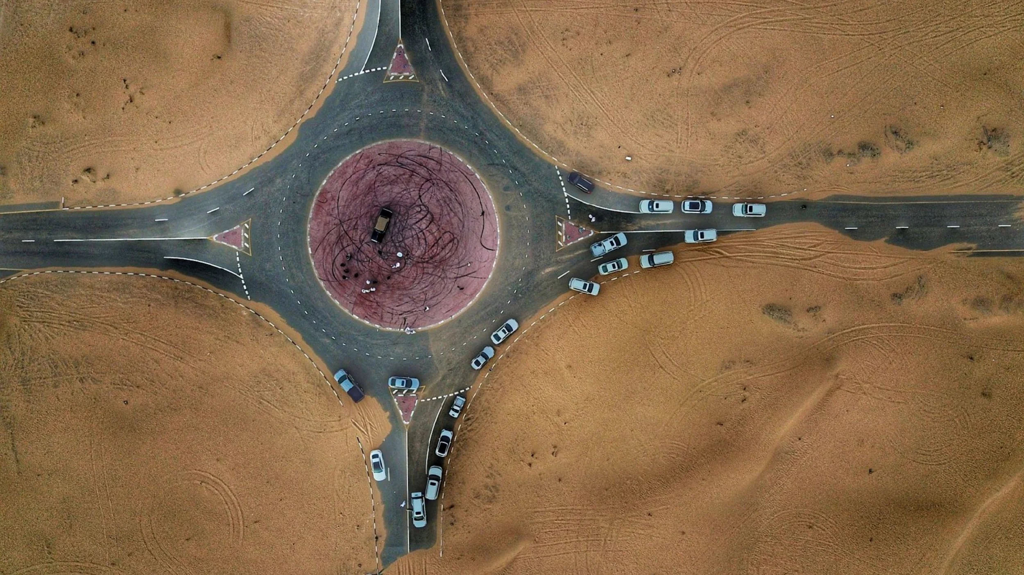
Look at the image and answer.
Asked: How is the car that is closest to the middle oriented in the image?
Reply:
at an angle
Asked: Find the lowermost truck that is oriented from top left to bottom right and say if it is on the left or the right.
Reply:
left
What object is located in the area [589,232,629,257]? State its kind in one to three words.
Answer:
truck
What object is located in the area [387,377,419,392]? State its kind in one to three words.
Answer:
car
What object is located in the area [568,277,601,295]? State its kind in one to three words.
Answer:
car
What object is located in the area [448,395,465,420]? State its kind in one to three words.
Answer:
vehicle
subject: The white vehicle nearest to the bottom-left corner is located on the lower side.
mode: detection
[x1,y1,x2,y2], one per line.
[368,450,386,483]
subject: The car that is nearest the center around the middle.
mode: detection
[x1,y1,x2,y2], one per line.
[488,317,520,347]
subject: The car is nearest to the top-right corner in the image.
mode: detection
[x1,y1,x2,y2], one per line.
[734,201,769,217]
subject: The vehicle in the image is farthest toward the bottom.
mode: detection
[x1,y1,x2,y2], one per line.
[405,494,426,530]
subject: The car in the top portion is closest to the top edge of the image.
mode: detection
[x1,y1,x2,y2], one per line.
[566,170,597,194]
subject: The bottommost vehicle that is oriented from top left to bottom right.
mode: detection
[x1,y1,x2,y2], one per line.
[332,369,365,406]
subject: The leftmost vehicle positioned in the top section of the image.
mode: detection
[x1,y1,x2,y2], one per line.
[371,207,391,242]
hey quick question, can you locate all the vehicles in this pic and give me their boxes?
[470,346,496,373]
[405,494,426,530]
[435,430,453,460]
[734,201,769,217]
[568,277,601,295]
[683,198,714,213]
[640,198,675,213]
[566,170,597,194]
[685,228,720,243]
[488,317,520,347]
[640,251,676,268]
[424,466,442,503]
[368,450,386,483]
[371,207,391,242]
[448,395,465,420]
[332,369,365,406]
[387,377,419,392]
[589,232,629,257]
[598,257,629,275]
